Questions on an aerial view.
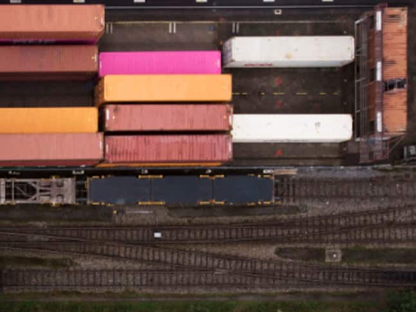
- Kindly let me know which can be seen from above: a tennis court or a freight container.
freight container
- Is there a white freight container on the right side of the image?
Yes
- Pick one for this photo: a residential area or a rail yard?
rail yard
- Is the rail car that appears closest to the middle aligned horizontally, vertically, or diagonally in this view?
horizontally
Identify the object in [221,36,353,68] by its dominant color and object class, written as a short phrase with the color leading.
white shipping container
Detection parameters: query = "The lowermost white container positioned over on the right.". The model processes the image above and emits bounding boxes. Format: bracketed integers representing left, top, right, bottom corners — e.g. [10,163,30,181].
[223,114,352,142]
